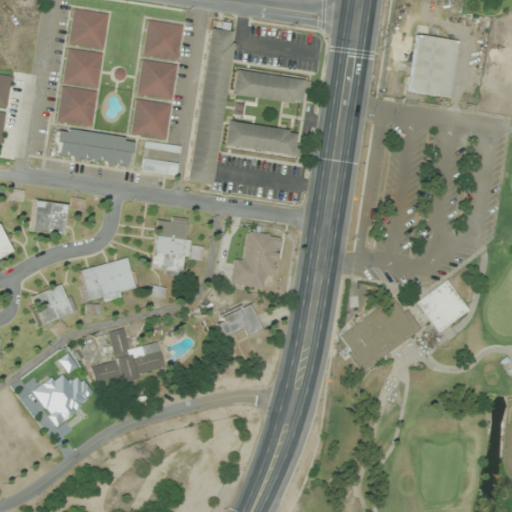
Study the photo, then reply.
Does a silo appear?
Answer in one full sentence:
No, the scene contains no silo.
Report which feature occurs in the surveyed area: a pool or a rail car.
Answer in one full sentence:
Looking from above, you can make out a pool.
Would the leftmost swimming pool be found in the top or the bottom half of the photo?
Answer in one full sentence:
You can find the leftmost swimming pool in the top half.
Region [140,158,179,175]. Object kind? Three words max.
shed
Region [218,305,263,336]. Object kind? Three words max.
house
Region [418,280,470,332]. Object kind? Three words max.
barn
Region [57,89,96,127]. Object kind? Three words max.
building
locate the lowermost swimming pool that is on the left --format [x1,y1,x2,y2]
[162,333,196,364]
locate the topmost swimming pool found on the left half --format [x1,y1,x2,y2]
[101,92,126,122]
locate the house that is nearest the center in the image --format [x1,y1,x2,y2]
[230,233,282,288]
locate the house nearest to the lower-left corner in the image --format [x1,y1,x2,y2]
[32,374,92,426]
